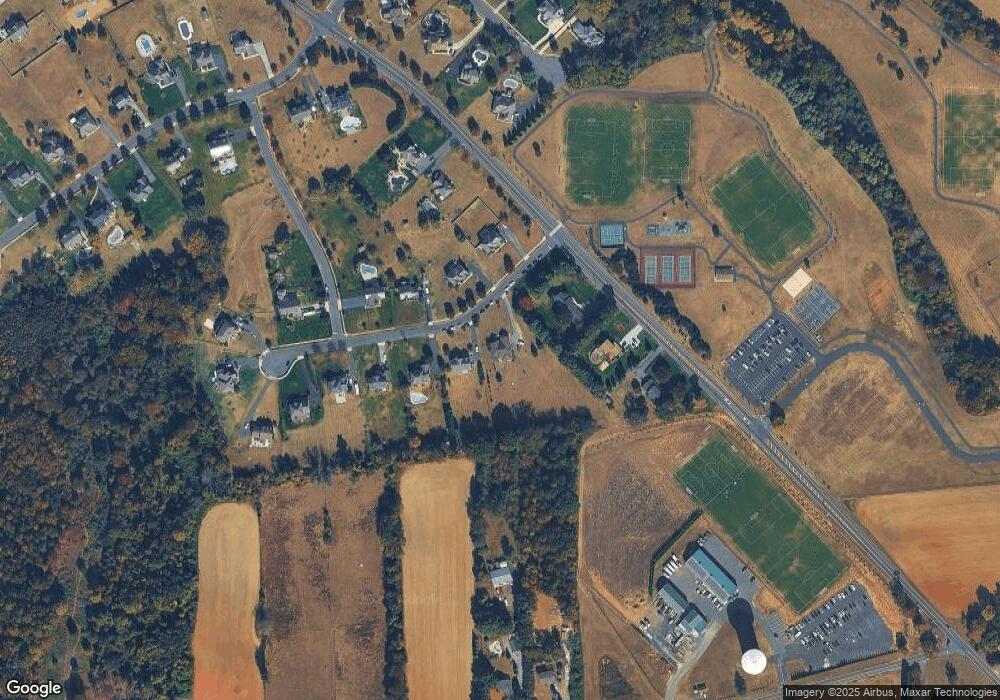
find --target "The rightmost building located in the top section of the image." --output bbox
[716,267,735,283]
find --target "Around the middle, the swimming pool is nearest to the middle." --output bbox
[409,391,428,404]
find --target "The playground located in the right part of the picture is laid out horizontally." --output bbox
[647,221,690,236]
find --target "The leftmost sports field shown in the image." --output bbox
[562,100,637,210]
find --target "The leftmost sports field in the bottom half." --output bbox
[674,431,754,510]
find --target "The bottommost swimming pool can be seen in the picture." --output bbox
[489,640,504,653]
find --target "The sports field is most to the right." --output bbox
[939,89,1000,187]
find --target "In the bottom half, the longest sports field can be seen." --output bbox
[702,462,848,615]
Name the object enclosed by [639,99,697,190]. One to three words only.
sports field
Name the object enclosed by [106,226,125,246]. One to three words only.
swimming pool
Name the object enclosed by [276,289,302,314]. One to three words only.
house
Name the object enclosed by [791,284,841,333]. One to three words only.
sports court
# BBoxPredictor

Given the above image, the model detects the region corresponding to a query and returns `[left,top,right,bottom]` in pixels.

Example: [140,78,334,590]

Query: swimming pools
[135,33,154,57]
[489,640,504,653]
[106,226,125,246]
[339,117,361,131]
[221,164,235,174]
[387,172,408,190]
[409,391,428,404]
[473,49,488,63]
[503,78,519,88]
[359,263,378,279]
[179,19,191,40]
